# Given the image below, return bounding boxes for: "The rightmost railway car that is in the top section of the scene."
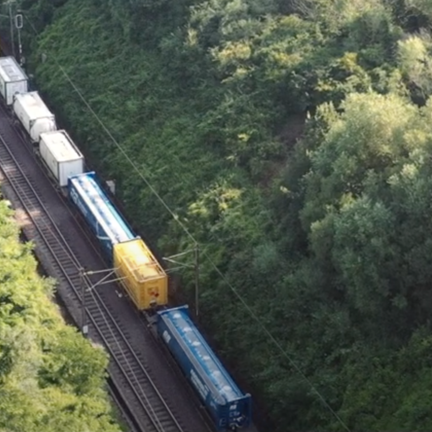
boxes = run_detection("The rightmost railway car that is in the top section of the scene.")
[13,112,69,193]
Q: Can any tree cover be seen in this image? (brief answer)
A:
Yes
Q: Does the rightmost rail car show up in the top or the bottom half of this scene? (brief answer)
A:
bottom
